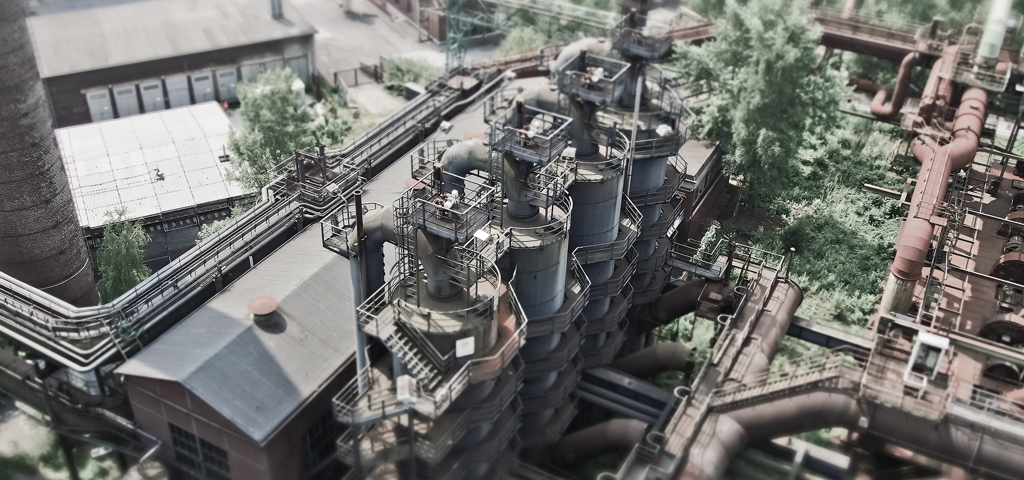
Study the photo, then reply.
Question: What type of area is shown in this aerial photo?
industrial area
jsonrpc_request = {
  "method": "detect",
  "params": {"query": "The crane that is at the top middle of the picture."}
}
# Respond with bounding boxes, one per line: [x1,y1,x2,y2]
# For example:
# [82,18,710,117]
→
[442,0,649,69]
